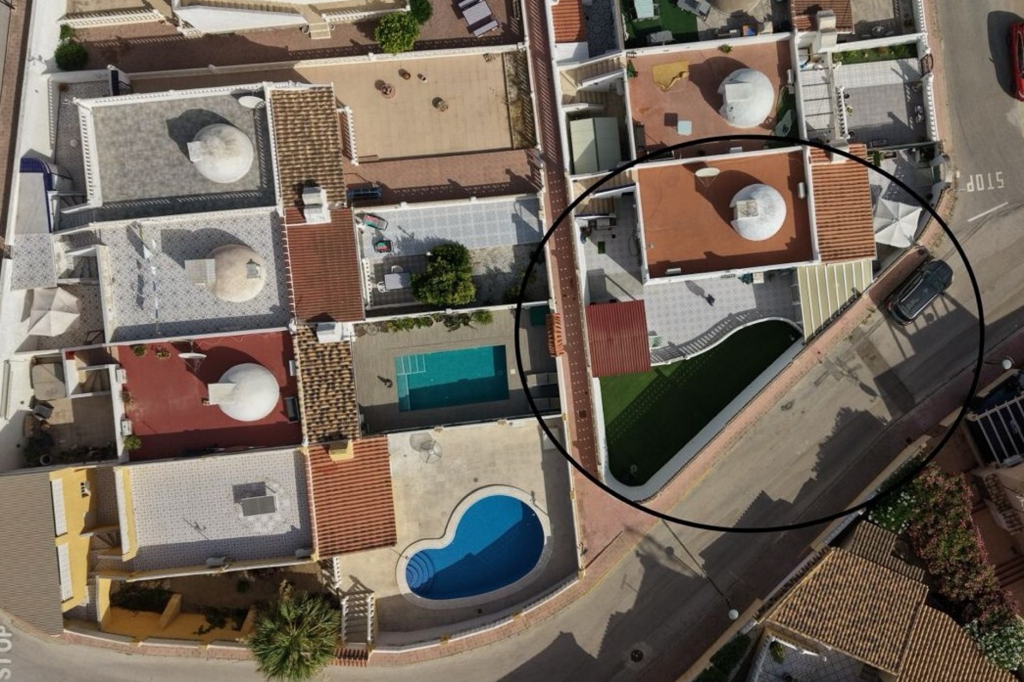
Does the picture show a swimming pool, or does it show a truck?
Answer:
swimming pool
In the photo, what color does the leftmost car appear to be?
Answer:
black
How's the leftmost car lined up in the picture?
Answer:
at an angle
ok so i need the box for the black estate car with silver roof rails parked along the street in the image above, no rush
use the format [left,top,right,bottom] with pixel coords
[879,258,954,329]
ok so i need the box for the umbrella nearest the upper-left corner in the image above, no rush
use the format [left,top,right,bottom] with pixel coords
[32,286,88,338]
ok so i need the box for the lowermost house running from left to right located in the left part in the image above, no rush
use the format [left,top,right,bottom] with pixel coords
[115,433,397,585]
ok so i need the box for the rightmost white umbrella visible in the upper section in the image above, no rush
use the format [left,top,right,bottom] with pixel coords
[873,192,925,247]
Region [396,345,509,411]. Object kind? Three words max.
swimming pool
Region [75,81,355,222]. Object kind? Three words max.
house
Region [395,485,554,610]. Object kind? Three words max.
swimming pool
